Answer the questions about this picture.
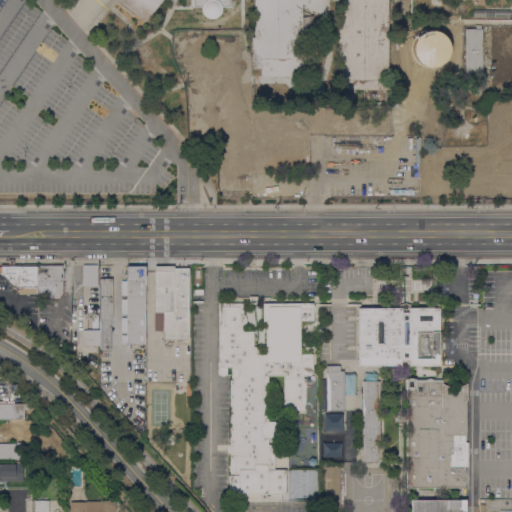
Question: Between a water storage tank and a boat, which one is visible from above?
water storage tank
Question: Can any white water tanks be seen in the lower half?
No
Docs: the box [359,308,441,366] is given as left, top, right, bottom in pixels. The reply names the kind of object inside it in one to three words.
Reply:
building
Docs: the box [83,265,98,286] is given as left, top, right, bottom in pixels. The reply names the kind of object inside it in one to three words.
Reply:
building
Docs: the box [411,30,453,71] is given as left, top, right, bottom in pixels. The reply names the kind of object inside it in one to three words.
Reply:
water tank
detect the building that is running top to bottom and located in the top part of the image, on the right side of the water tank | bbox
[464,29,483,72]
